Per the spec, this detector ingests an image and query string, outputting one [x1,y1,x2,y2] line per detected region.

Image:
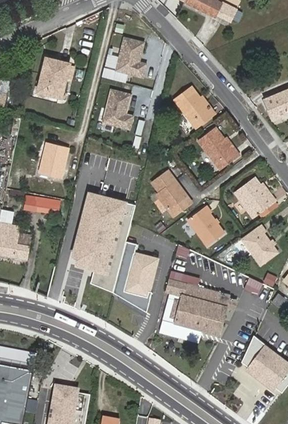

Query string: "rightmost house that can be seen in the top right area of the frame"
[264,89,288,124]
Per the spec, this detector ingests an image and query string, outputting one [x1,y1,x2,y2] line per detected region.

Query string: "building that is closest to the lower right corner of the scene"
[242,336,288,392]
